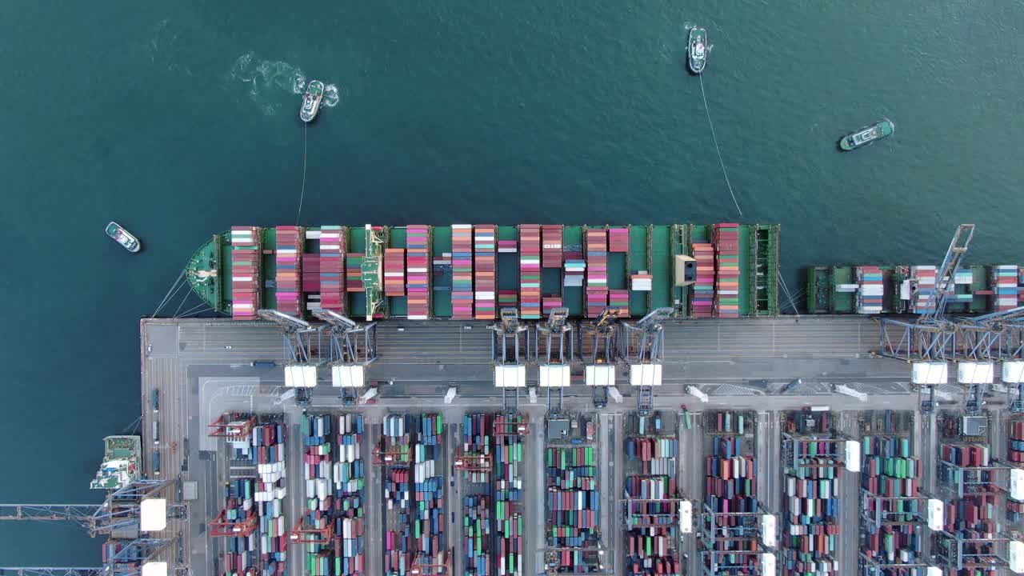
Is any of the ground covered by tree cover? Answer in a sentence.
No, the scene doesn't show any tree cover.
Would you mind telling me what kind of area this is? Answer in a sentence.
The area seen from above is a port.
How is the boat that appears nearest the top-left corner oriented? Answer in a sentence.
I'd say the boat that appears nearest the top-left corner is aligned diagonally in the picture.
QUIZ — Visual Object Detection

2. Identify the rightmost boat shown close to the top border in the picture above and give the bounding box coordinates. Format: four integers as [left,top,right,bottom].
[688,27,707,73]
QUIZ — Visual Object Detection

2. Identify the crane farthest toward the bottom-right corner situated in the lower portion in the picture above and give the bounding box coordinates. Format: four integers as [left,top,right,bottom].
[933,531,1024,575]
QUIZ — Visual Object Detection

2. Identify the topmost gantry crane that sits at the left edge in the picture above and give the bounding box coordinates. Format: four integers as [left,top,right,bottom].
[0,469,197,535]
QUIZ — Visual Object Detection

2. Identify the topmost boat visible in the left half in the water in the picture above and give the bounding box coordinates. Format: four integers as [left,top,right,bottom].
[300,79,326,123]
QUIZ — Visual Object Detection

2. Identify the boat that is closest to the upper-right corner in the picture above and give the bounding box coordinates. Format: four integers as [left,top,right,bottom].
[839,116,895,151]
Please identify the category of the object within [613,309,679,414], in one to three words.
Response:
container crane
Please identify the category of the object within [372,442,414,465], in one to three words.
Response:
container crane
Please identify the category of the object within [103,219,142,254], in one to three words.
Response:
boat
